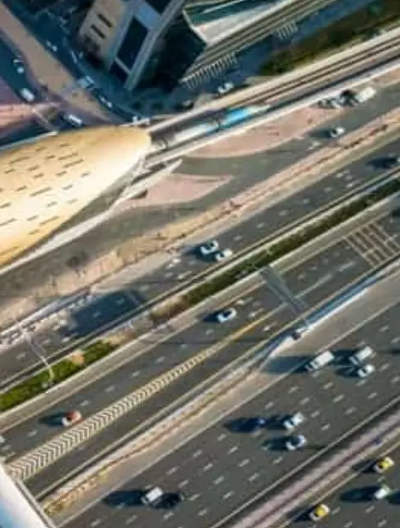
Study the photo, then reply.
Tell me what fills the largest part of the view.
paved ground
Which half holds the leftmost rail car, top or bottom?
top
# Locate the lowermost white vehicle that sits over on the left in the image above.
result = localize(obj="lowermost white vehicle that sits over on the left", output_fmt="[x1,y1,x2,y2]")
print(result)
[140,485,167,505]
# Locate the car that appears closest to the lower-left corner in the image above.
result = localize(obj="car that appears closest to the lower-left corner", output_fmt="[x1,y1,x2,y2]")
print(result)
[61,409,82,425]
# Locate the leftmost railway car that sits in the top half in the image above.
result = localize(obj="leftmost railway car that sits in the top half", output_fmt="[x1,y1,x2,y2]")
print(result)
[150,133,188,156]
